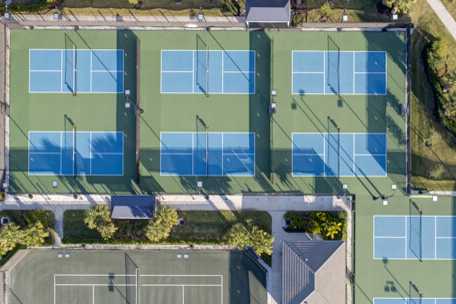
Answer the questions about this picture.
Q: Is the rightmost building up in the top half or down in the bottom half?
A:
bottom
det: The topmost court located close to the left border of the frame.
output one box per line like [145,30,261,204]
[10,31,139,112]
